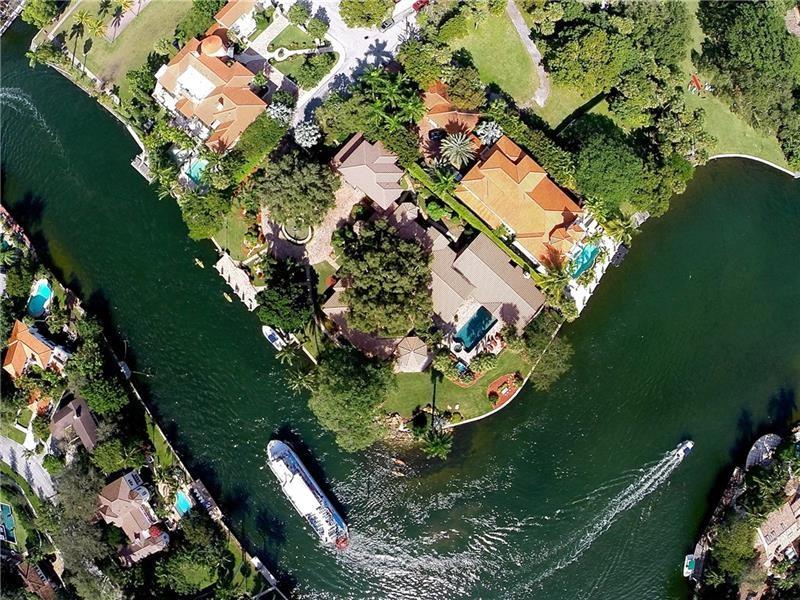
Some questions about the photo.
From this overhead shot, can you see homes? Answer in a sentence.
Yes, a home can be made out from above.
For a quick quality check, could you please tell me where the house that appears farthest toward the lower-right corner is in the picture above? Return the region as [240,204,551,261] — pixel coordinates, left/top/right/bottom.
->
[749,491,800,556]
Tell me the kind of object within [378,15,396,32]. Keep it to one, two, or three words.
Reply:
vehicle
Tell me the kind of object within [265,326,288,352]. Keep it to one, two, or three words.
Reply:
boat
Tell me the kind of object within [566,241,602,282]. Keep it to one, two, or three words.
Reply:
swimming pool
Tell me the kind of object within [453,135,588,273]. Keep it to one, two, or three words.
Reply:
house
